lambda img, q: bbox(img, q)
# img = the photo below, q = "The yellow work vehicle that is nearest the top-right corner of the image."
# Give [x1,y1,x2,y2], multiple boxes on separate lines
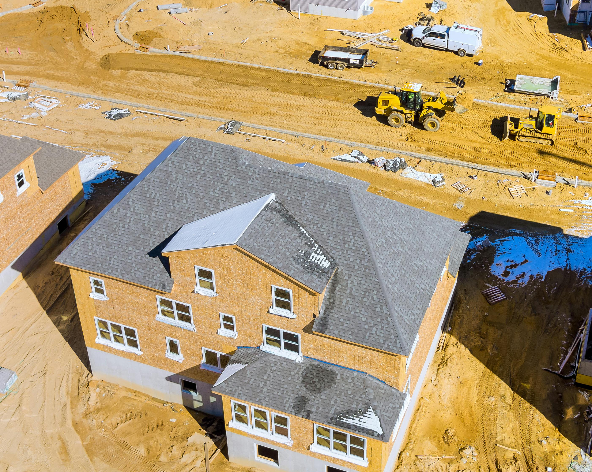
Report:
[509,106,557,146]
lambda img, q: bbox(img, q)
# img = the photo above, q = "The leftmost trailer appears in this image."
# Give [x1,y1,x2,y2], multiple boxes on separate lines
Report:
[320,45,383,71]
